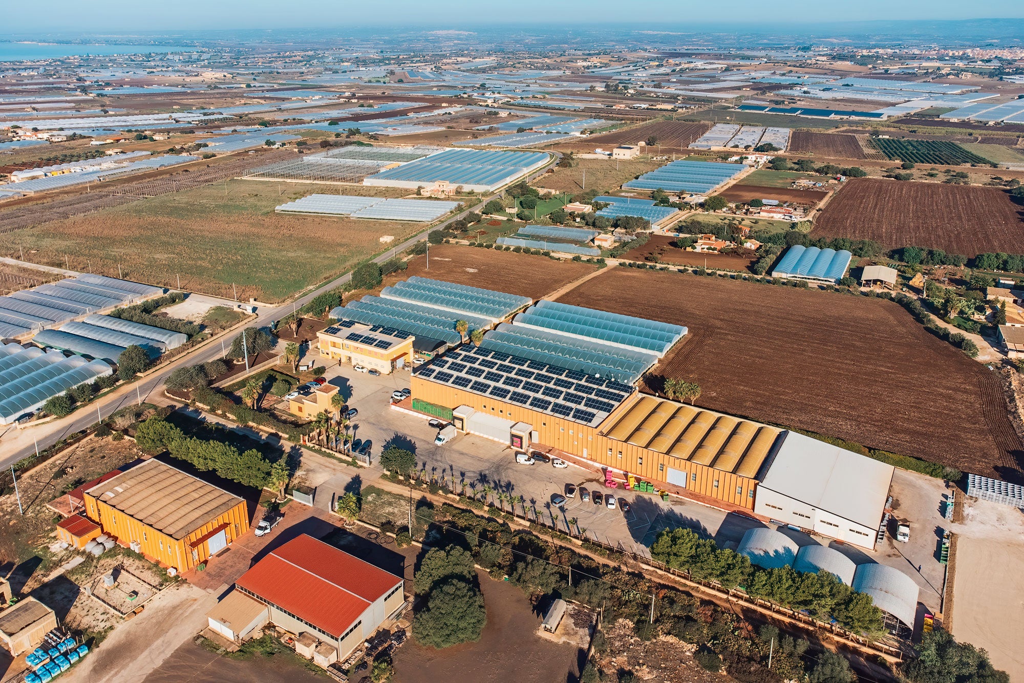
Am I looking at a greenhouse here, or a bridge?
greenhouse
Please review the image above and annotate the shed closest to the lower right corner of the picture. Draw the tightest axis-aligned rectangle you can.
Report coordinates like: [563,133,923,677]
[853,563,920,648]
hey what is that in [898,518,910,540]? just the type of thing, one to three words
vehicle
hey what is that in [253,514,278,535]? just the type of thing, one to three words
truck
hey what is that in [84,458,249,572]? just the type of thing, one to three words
warehouse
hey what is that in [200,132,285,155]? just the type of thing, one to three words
greenhouse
